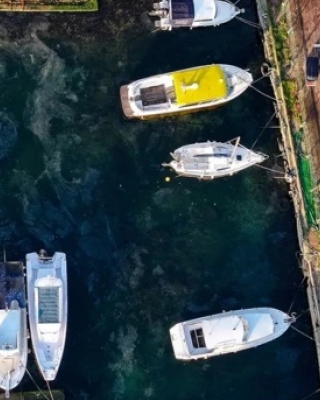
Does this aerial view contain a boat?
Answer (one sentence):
Yes, looking at the shot, I can spot a boat.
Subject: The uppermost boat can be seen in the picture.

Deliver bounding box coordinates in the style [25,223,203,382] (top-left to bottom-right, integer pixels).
[145,0,264,32]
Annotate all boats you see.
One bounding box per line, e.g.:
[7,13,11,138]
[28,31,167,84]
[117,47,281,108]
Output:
[145,0,264,32]
[163,283,311,364]
[0,246,46,400]
[117,63,276,122]
[26,246,68,400]
[160,112,285,180]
